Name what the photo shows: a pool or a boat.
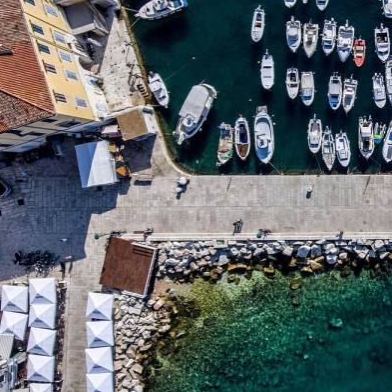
boat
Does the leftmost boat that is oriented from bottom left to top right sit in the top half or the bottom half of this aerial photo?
top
